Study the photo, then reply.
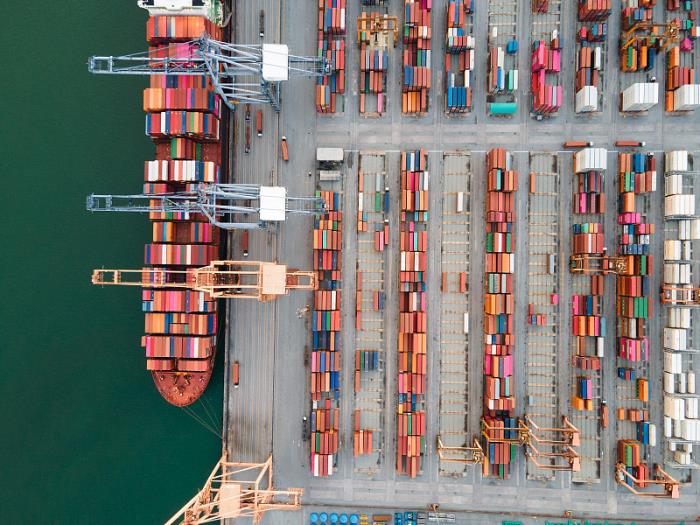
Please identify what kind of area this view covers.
port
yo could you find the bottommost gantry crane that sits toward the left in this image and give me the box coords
[162,447,302,525]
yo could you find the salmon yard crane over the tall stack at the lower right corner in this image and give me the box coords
[617,465,682,500]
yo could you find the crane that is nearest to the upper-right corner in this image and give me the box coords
[619,21,681,55]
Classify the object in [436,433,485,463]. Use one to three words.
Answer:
container crane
